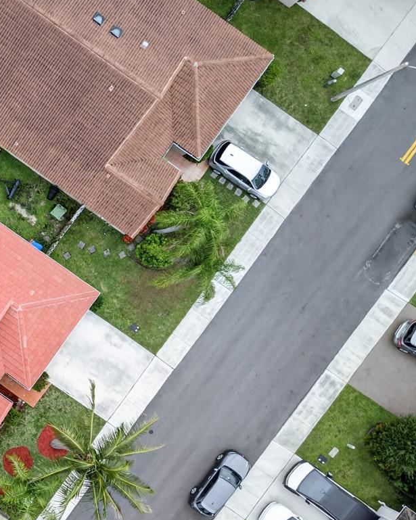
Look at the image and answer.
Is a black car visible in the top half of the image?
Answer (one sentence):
No, there's no black car to be seen in the top half of the image.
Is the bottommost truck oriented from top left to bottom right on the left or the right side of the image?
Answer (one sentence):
The bottommost truck oriented from top left to bottom right is on the right side of the image.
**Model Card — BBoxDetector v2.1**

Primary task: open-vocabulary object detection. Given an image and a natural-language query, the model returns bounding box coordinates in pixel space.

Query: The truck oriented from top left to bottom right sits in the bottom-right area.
[279,458,380,520]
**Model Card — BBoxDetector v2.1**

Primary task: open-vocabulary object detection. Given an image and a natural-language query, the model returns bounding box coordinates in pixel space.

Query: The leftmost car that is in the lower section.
[189,449,254,520]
